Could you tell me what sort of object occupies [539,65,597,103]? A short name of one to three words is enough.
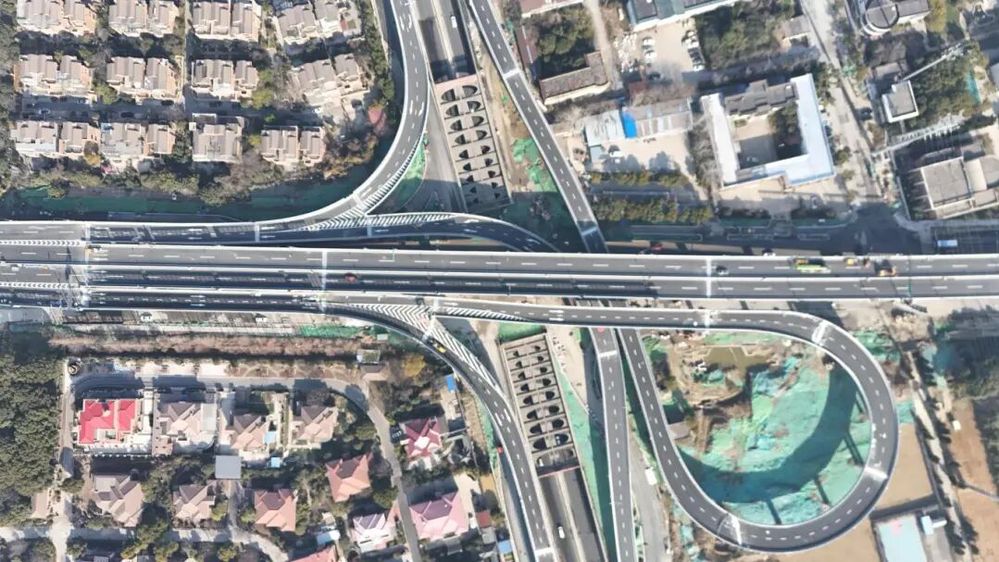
building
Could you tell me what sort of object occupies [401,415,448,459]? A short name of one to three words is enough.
house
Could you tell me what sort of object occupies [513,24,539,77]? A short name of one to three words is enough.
shed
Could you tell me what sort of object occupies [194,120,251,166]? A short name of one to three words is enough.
house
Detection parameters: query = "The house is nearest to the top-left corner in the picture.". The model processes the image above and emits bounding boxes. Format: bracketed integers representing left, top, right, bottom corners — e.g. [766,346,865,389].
[19,0,75,40]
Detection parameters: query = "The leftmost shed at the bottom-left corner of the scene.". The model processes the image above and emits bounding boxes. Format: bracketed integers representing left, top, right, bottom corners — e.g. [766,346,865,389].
[30,488,52,518]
